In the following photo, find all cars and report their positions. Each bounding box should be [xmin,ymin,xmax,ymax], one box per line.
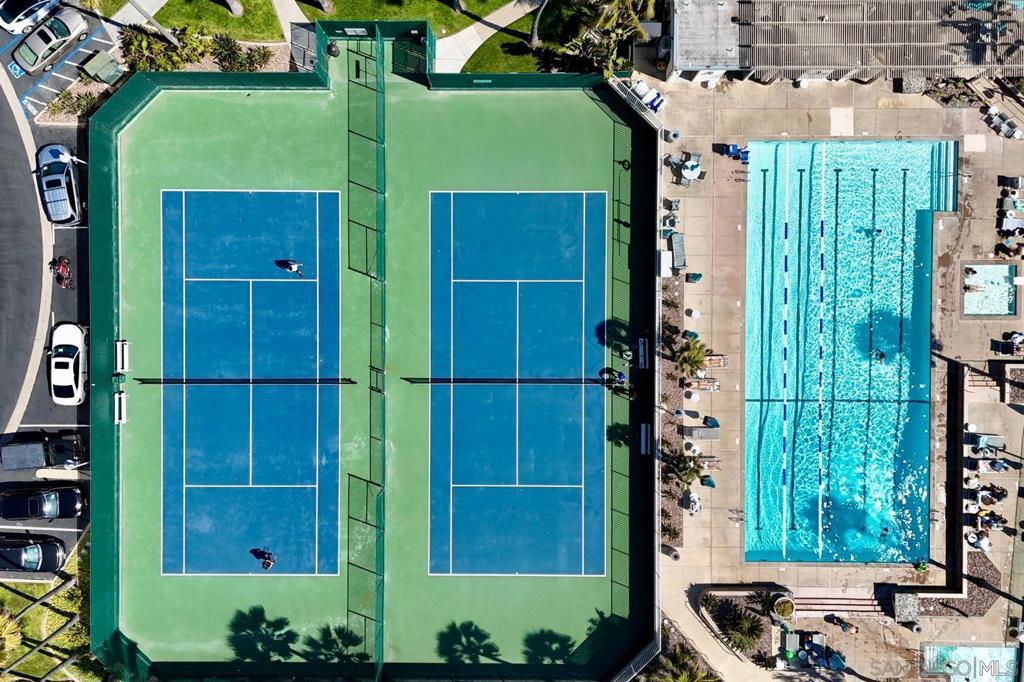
[0,538,69,577]
[35,142,86,226]
[8,11,93,73]
[0,484,87,523]
[47,322,91,406]
[0,432,84,469]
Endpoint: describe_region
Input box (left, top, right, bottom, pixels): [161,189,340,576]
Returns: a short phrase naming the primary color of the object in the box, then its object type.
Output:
blue tennis court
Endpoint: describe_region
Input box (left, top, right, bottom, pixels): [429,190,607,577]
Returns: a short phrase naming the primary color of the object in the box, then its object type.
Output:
blue tennis court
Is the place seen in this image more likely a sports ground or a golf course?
sports ground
